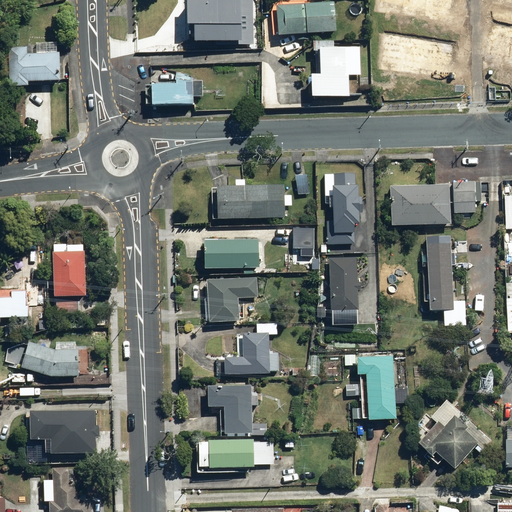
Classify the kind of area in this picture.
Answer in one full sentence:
This image shows a residential area.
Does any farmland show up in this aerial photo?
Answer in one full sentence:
No, no farmland is visible.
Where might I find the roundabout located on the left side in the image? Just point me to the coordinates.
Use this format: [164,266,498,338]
[103,140,138,176]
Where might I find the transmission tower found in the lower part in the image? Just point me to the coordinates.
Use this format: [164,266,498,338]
[478,370,494,402]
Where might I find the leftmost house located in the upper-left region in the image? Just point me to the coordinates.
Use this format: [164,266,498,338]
[9,42,60,86]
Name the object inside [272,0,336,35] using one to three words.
house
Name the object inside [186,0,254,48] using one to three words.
building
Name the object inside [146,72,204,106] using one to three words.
building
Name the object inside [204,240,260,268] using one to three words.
house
